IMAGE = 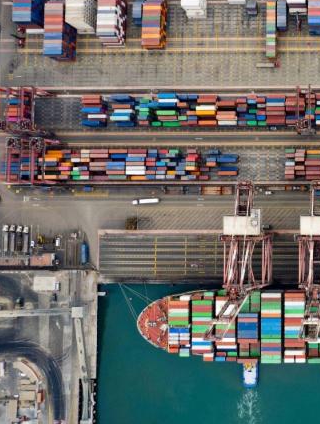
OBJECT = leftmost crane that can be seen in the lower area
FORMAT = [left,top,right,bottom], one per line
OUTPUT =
[198,177,279,340]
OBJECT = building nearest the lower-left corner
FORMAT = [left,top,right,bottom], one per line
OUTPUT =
[7,398,20,424]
